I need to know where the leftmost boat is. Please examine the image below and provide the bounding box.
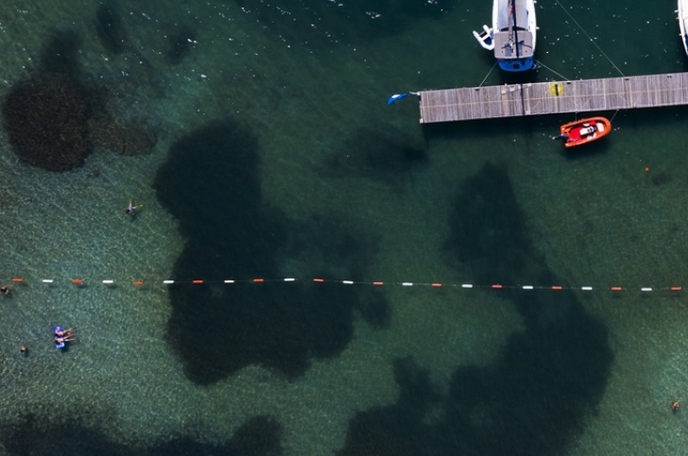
[472,22,493,50]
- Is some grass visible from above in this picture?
Yes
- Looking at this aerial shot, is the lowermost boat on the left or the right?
right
